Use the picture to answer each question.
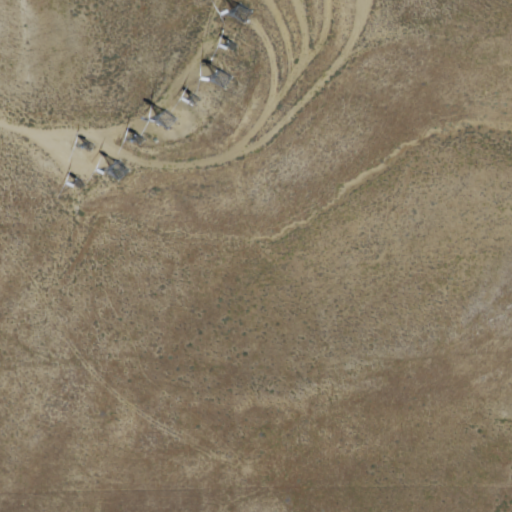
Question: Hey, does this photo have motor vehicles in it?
No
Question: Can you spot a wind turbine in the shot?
Yes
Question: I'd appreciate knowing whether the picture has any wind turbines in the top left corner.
Yes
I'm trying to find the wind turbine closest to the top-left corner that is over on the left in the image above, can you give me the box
[69,135,95,158]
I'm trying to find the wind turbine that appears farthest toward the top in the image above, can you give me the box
[215,0,254,25]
